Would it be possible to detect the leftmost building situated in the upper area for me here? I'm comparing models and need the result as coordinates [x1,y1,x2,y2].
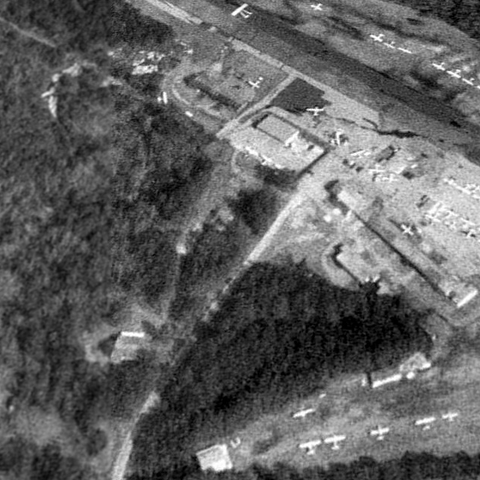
[255,115,300,147]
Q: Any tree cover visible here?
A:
Yes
